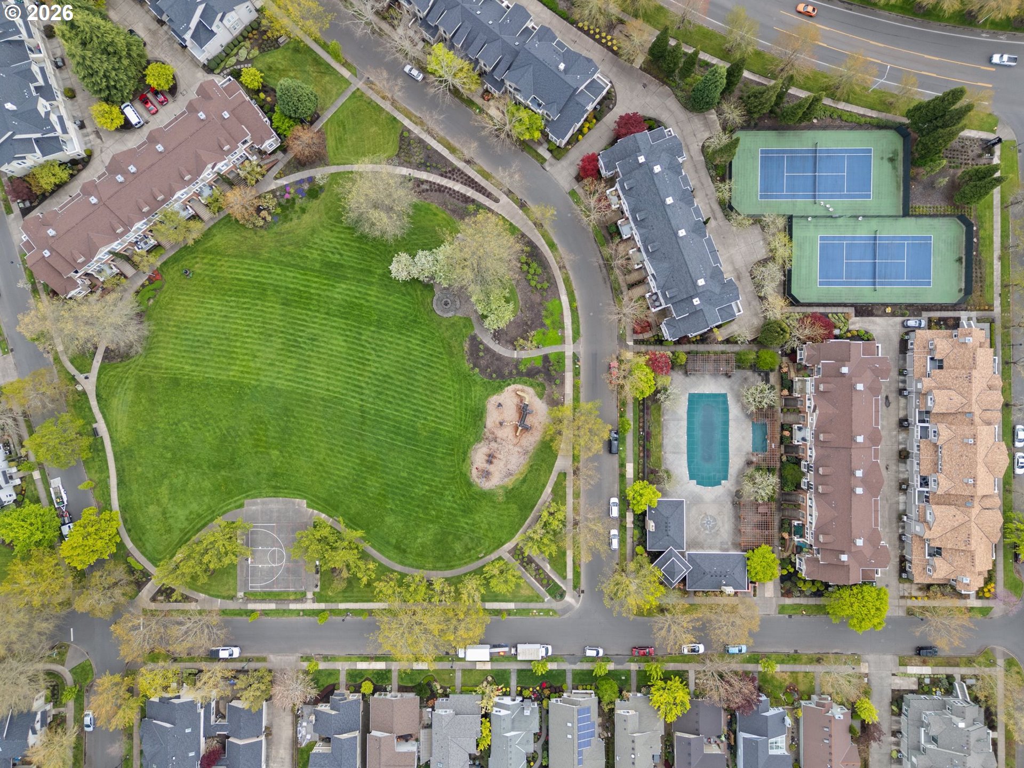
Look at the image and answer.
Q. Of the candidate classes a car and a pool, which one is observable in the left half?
car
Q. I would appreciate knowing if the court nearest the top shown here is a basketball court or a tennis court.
tennis court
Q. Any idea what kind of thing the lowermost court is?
basketball court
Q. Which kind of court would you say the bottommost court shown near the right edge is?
tennis court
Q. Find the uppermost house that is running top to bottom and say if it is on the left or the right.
left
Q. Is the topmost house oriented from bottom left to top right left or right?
left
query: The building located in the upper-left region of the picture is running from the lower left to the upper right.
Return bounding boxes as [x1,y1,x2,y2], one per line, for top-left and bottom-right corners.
[18,76,292,302]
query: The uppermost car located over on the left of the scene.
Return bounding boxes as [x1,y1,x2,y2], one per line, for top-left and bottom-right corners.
[128,26,145,47]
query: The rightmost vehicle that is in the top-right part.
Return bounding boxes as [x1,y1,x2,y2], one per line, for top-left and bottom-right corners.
[992,51,1020,64]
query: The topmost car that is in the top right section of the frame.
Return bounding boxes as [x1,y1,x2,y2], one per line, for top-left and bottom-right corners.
[796,1,819,15]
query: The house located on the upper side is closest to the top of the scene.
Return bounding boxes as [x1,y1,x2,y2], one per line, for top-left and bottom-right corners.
[155,0,265,64]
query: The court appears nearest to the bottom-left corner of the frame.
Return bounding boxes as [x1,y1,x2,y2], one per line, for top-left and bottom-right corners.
[237,498,319,592]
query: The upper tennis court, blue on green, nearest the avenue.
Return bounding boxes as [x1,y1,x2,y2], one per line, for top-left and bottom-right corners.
[732,125,911,216]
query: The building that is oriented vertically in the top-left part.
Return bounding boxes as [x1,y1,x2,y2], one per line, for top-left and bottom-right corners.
[0,0,86,174]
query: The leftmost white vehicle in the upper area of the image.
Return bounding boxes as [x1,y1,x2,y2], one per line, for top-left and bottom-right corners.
[119,101,140,126]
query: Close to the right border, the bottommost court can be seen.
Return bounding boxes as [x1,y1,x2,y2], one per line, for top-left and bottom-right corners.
[792,213,974,303]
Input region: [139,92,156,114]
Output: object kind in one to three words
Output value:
car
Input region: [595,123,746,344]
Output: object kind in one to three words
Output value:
house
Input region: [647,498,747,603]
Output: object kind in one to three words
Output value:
building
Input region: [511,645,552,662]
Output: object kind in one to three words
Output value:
vehicle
